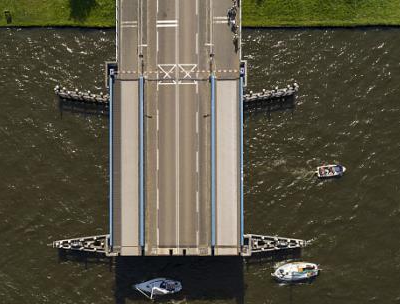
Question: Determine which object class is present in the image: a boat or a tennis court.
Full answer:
Of the two, only a boat appears.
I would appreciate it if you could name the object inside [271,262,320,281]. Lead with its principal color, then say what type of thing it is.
white boat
